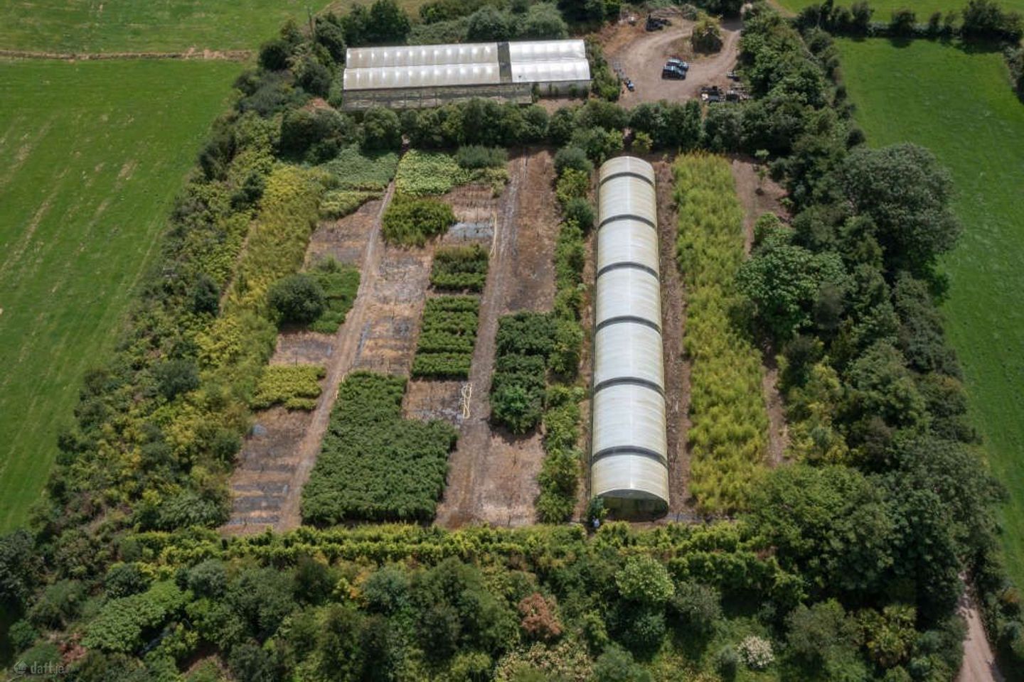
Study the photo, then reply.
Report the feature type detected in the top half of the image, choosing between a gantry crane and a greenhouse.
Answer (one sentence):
There is a greenhouse in the top half of the image.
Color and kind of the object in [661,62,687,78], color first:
black car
